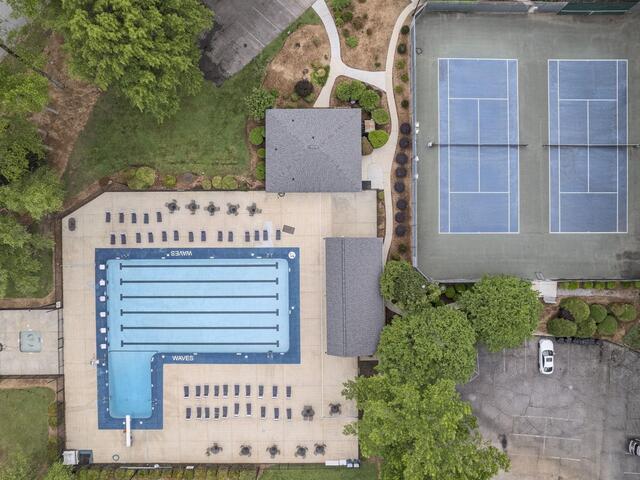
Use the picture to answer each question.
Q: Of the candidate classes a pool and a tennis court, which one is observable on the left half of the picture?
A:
pool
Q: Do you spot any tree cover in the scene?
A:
Yes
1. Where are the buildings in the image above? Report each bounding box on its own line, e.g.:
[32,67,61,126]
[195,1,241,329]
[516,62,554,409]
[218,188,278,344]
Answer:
[325,234,385,358]
[264,109,362,192]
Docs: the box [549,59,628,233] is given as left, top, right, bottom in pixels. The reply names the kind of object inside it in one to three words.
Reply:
tennis court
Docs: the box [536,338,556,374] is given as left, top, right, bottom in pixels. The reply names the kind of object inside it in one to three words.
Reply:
car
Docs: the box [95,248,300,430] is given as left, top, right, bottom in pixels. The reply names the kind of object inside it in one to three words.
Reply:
swimming pool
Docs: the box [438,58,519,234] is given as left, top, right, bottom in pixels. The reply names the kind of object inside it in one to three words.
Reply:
tennis court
